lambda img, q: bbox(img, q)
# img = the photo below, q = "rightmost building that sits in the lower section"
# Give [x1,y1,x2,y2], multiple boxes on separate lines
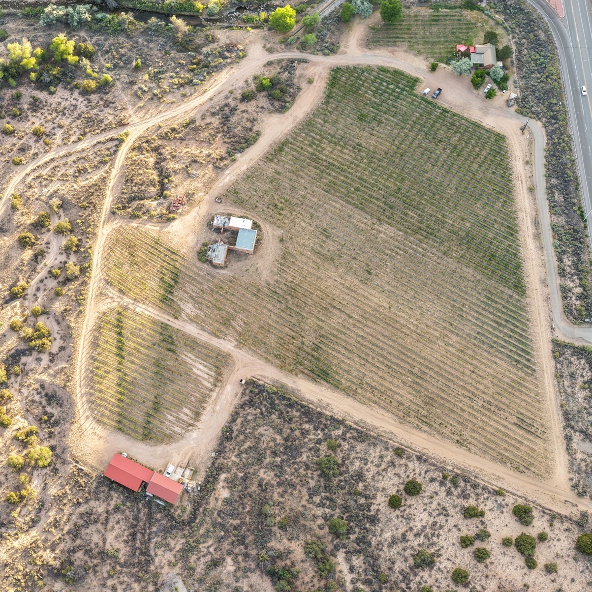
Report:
[146,472,184,505]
